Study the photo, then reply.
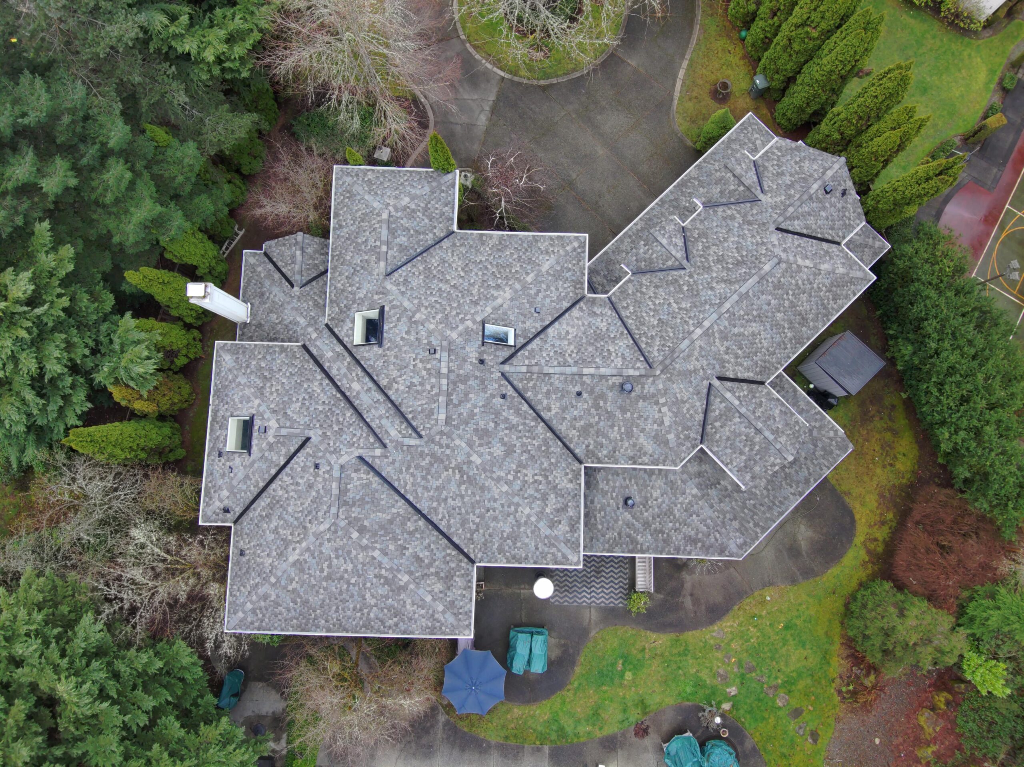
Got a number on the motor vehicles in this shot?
0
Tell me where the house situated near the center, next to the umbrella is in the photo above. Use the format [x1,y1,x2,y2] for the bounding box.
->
[187,110,894,640]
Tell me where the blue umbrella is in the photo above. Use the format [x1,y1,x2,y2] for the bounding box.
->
[442,649,507,716]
